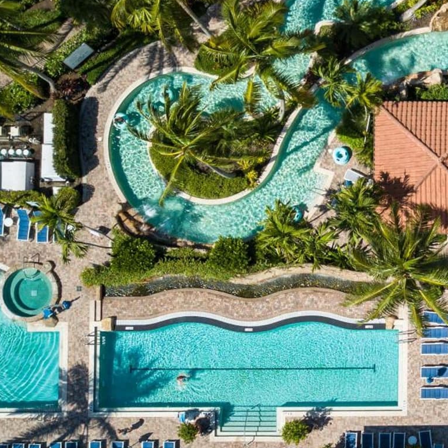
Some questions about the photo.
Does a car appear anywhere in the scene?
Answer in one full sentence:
No, the frame has no car in it.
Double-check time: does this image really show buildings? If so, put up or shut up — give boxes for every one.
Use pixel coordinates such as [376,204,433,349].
[373,100,448,234]
[0,160,47,191]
